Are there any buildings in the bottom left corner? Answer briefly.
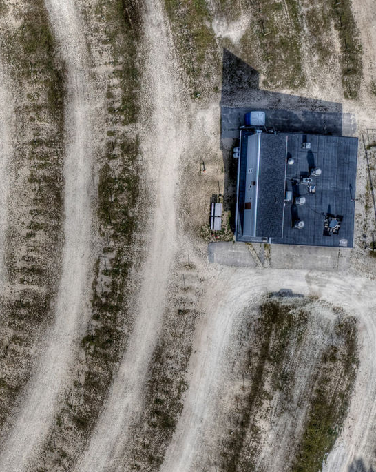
No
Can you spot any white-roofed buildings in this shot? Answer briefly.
No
